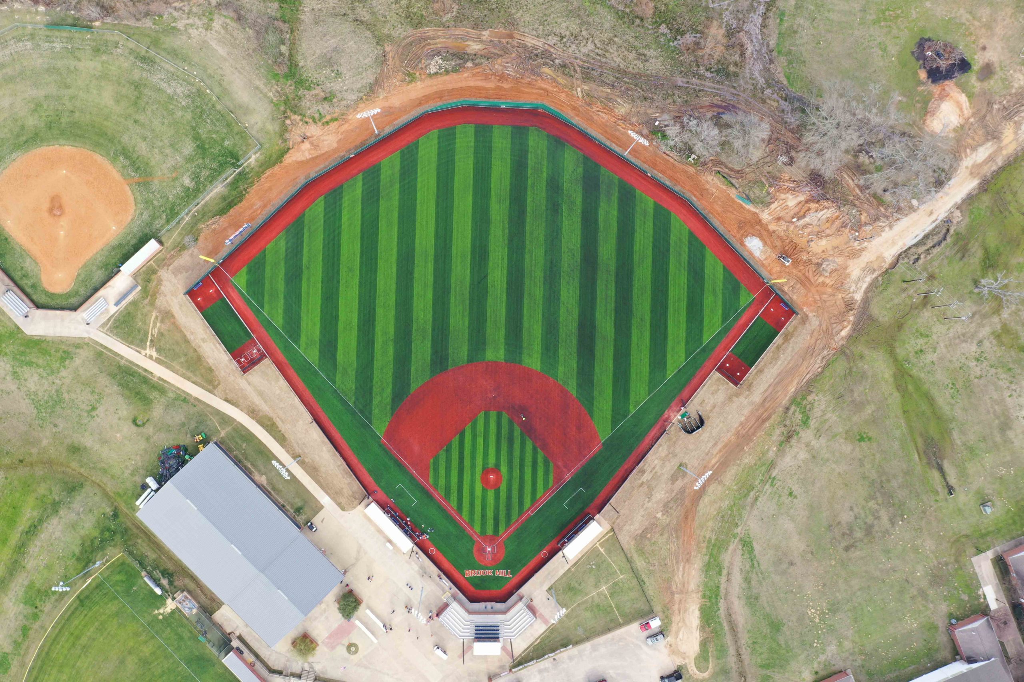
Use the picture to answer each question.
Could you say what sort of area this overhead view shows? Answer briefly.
sports ground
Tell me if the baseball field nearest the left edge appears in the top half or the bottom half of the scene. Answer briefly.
top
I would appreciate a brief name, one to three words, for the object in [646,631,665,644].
vehicle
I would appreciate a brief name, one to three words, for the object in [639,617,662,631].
vehicle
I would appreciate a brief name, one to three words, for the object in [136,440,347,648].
building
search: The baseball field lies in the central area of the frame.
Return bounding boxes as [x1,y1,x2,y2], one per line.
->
[190,107,797,603]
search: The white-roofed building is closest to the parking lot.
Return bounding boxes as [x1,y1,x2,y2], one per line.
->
[474,637,503,655]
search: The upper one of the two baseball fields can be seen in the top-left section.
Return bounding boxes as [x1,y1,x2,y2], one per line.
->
[0,25,255,309]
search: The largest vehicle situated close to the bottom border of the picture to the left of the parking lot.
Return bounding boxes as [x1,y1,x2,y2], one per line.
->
[432,645,449,661]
